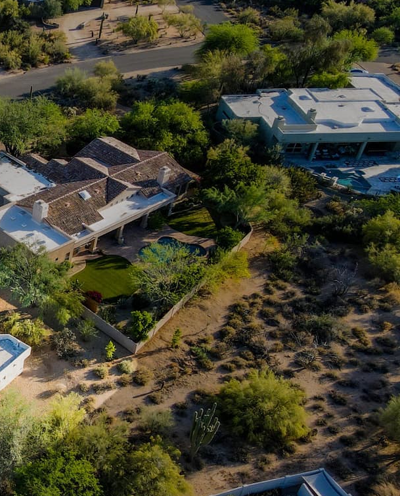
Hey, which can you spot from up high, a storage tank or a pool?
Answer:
pool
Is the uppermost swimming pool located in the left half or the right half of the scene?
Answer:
right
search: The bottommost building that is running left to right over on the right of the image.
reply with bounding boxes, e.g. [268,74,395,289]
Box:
[213,74,400,164]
